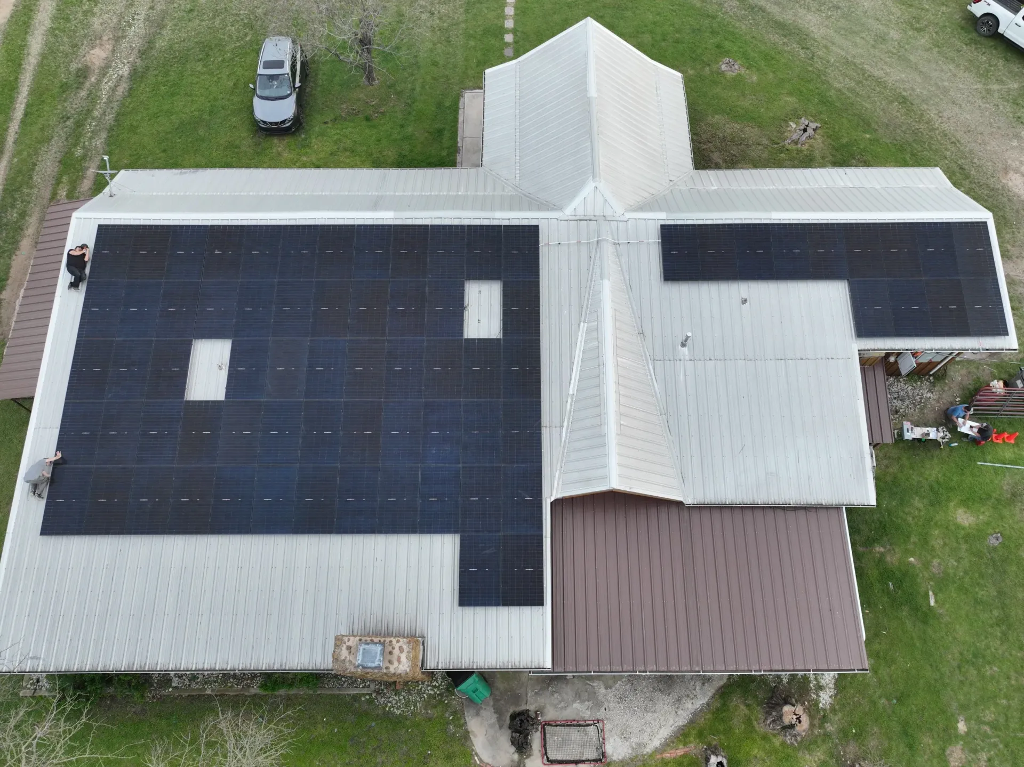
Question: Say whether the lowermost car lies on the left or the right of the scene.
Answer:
left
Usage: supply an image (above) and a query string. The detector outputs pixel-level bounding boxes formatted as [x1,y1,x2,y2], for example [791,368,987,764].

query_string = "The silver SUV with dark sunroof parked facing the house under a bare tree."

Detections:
[244,36,310,134]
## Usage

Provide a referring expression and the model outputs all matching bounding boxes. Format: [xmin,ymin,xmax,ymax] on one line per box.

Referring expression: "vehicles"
[244,36,310,134]
[969,0,1024,55]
